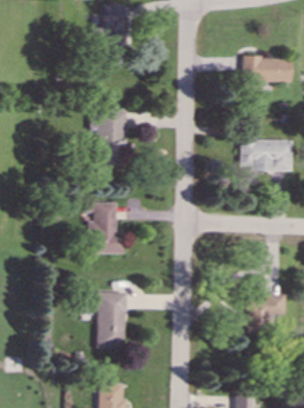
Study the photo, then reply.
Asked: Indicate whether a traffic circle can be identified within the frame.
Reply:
No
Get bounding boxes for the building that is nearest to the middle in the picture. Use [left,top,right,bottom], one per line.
[88,202,126,255]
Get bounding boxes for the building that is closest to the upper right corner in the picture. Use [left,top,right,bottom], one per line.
[243,54,294,82]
